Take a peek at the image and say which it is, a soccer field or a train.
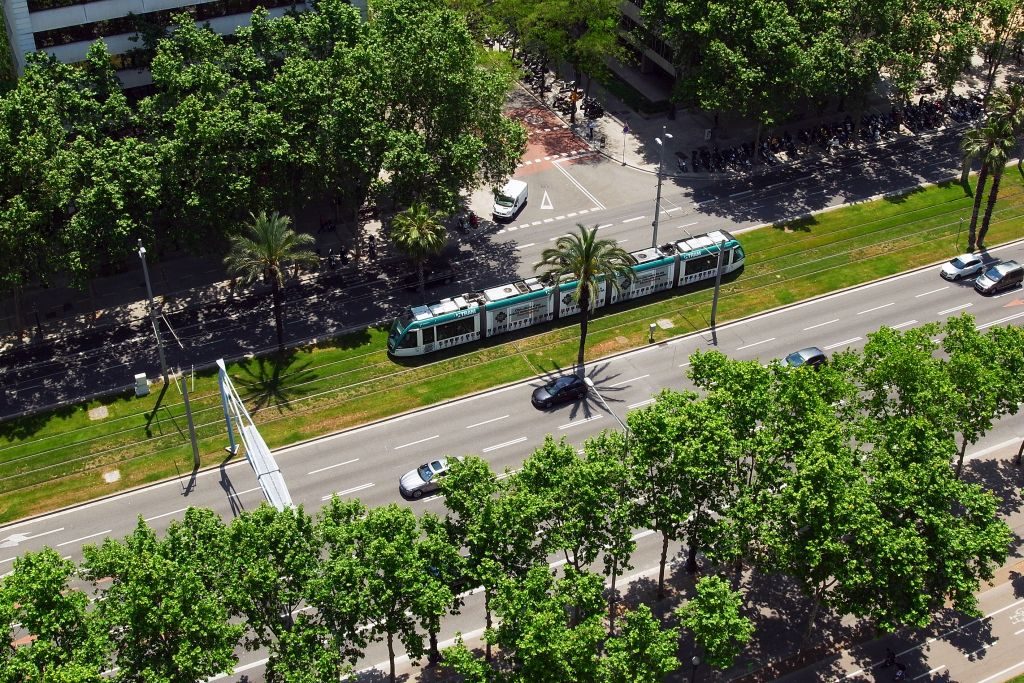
train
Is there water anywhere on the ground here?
No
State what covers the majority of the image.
trees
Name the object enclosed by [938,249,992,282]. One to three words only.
car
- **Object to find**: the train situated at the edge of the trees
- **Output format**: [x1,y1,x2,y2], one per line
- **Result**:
[385,228,750,357]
